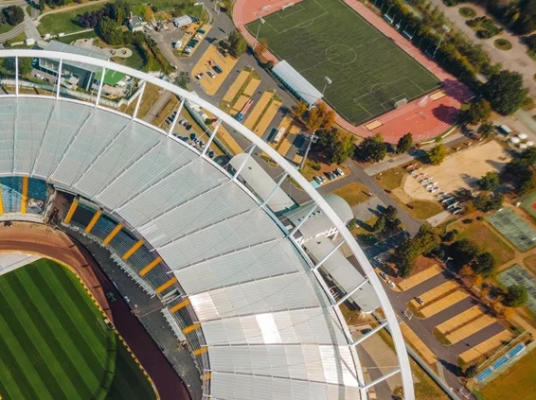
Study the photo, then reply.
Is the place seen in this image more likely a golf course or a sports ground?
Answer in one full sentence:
What you see here is a sports ground.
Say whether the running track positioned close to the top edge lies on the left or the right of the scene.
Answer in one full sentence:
You can find the running track positioned close to the top edge on the right side of the picture.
